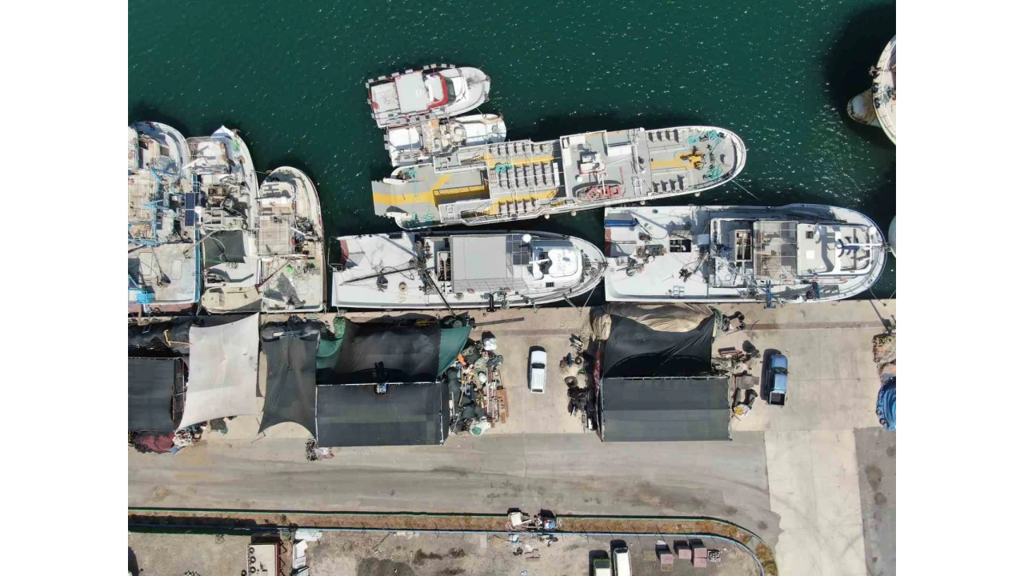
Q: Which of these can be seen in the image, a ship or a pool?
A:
ship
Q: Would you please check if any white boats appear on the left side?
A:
Yes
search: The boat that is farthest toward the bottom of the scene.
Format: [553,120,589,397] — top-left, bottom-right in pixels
[202,284,266,313]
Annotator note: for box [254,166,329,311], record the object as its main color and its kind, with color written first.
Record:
white boat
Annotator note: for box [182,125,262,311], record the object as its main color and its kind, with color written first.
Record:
white boat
